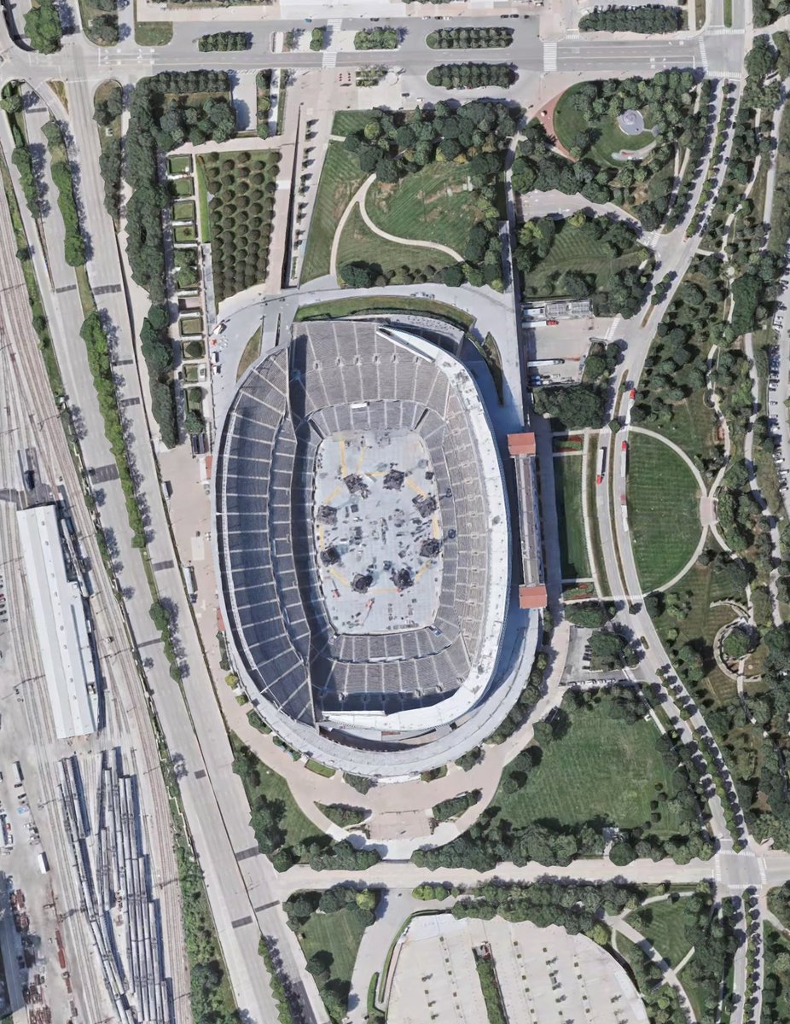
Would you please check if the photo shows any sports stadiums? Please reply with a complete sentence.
Yes, there is a sports stadium in the image.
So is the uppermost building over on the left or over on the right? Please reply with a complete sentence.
The uppermost building sits on the right side.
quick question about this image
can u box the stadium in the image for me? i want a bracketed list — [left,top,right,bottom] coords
[210,316,540,775]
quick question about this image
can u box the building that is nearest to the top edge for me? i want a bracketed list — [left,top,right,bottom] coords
[523,297,594,318]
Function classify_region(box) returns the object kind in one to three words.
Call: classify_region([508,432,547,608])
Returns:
building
